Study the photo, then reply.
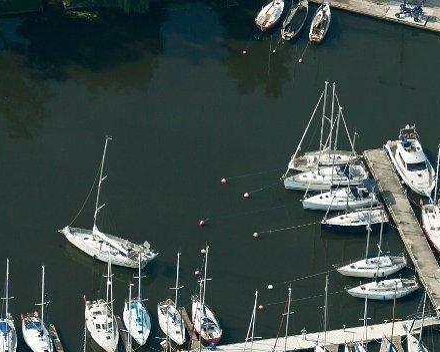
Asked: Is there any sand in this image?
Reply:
No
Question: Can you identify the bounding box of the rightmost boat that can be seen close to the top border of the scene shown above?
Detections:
[309,0,330,46]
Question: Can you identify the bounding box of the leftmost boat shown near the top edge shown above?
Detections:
[252,0,285,34]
